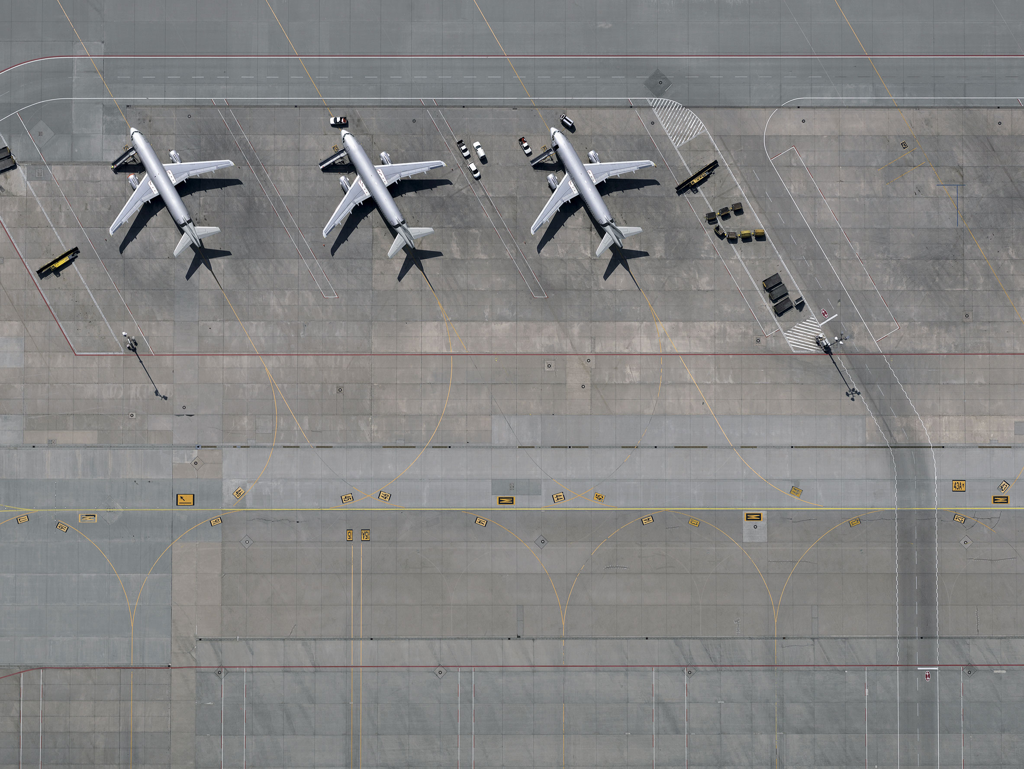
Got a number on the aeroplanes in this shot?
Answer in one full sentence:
There are 3 aeroplanes in the image.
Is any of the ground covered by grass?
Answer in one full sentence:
No, no grass is visible.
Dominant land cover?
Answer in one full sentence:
The largest share of the image is taken up by paved ground.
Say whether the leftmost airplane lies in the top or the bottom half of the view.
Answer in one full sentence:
The leftmost airplane is in the top half of the image.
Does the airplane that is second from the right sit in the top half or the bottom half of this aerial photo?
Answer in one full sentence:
Seen from above, the airplane that is second from the right lies in the top half of the view.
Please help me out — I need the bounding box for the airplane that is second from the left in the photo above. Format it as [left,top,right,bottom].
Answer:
[322,130,447,258]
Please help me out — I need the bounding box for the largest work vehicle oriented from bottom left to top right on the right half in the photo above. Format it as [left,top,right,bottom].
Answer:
[676,162,717,189]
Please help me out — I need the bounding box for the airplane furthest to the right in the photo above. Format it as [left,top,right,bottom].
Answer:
[529,128,656,257]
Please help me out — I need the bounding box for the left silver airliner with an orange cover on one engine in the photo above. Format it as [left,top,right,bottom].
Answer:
[109,128,234,257]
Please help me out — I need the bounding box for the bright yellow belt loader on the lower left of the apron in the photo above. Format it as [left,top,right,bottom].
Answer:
[35,247,78,273]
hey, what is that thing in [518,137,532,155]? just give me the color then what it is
white vehicle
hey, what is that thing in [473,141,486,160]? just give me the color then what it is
white vehicle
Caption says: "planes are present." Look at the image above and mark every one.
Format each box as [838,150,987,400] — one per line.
[109,128,234,257]
[529,128,656,257]
[322,130,447,258]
